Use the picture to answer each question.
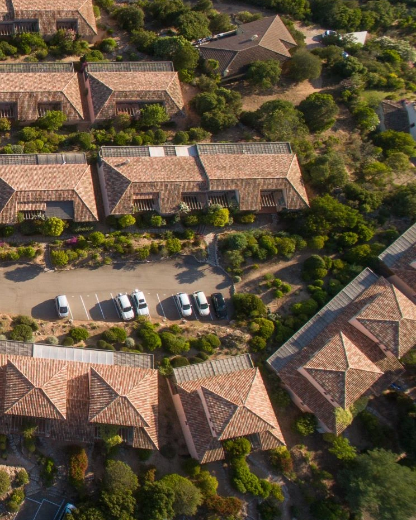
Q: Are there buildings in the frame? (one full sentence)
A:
Yes, you can see a building in this photo.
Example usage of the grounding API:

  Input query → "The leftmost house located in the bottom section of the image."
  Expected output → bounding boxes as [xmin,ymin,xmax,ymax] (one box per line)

[0,339,163,451]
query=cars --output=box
[338,46,353,57]
[189,291,211,318]
[128,289,151,321]
[112,294,133,322]
[54,295,69,319]
[206,293,228,321]
[173,294,192,318]
[318,28,338,40]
